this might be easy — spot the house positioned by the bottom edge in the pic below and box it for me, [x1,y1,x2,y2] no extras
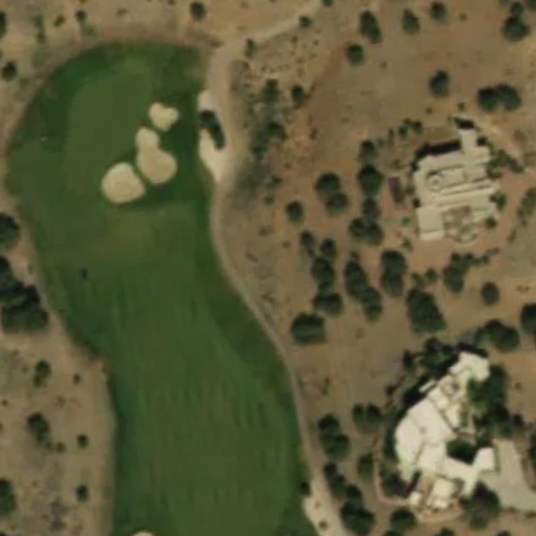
[395,352,494,517]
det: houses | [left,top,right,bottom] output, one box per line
[395,352,494,517]
[413,128,499,244]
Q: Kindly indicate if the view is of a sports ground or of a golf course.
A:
golf course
